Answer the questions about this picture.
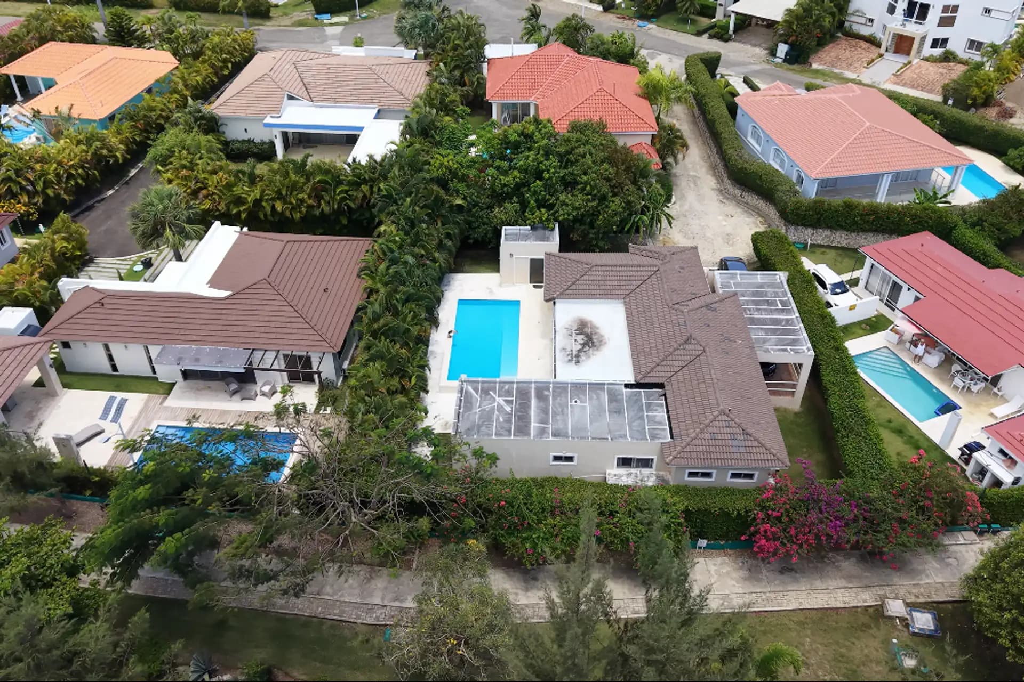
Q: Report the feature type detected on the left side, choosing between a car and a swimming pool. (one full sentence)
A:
What appears on the left side is a swimming pool.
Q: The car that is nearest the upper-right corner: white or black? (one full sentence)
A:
From above, the car that is nearest the upper-right corner appears white.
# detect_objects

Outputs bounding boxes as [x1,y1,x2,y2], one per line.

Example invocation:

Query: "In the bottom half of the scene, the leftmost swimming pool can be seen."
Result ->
[143,421,306,488]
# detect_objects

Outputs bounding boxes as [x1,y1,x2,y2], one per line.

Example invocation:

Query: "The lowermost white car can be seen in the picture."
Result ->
[811,266,865,317]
